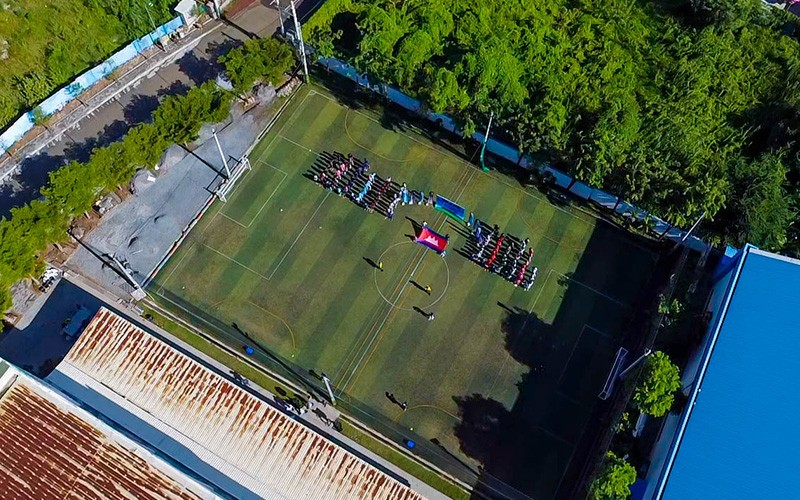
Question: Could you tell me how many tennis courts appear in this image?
0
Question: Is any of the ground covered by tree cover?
Yes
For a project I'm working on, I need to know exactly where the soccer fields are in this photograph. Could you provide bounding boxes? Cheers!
[145,81,677,500]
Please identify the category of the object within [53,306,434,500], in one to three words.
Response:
shed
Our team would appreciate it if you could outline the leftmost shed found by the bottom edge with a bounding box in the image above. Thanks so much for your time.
[0,363,238,500]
